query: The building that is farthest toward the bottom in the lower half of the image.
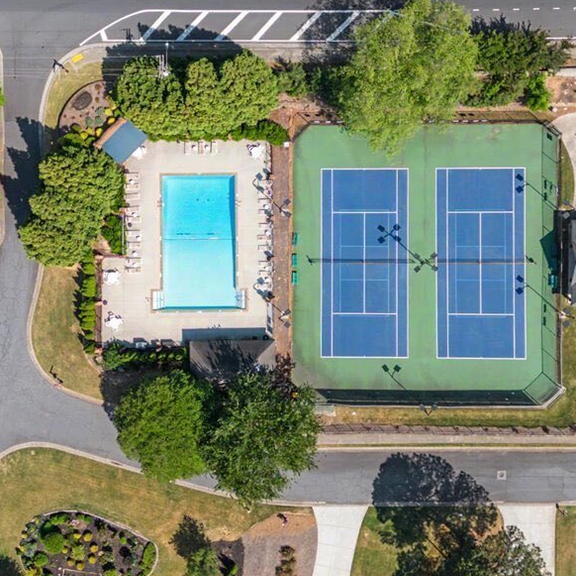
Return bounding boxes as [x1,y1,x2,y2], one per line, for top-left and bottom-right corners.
[189,340,276,391]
